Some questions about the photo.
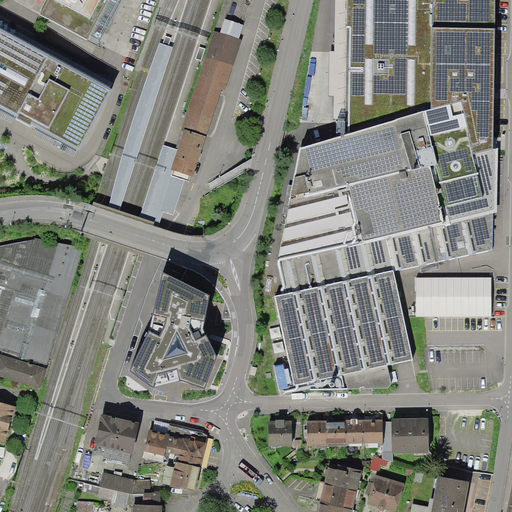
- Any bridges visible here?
Yes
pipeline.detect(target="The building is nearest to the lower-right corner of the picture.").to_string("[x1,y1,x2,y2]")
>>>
[430,475,470,512]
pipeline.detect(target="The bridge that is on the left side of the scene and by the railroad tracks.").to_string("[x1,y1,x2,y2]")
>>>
[82,202,208,270]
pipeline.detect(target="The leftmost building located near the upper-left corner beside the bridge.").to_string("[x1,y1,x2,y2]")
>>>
[0,20,115,152]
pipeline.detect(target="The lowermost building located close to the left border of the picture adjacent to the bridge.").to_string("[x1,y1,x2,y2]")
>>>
[0,238,82,366]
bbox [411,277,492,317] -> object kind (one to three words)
building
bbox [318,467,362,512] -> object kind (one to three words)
house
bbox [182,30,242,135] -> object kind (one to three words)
shed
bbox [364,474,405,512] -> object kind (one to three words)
house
